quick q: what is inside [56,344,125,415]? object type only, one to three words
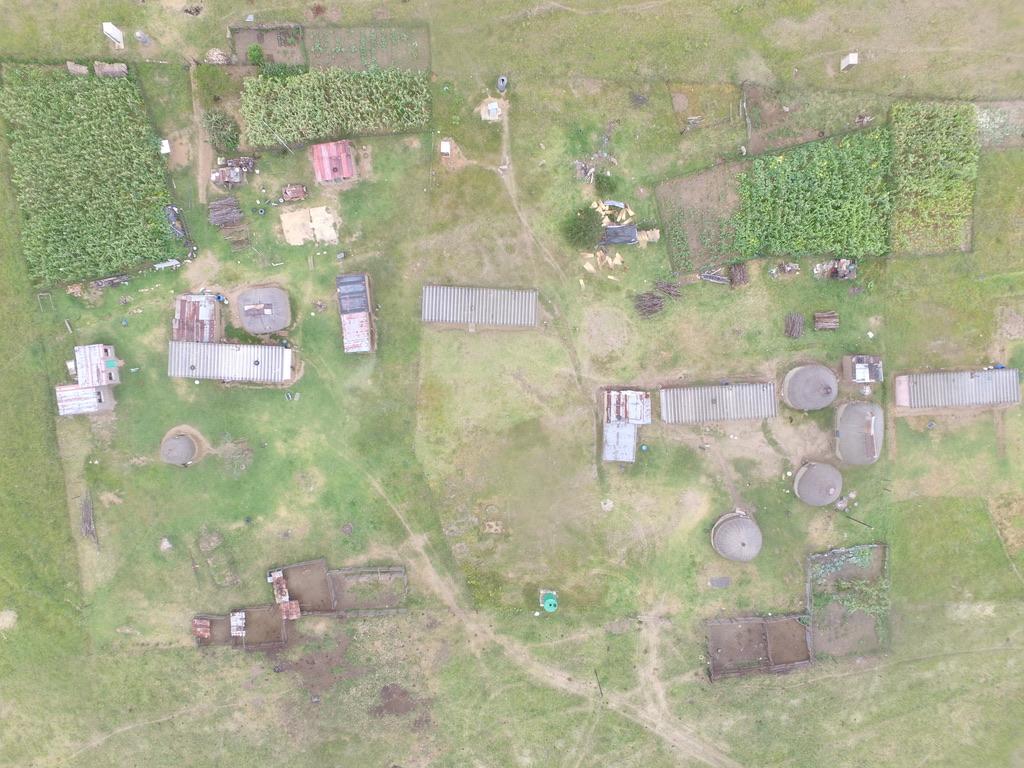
house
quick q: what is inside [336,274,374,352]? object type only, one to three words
shed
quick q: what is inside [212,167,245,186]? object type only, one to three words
shed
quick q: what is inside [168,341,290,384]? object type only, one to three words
house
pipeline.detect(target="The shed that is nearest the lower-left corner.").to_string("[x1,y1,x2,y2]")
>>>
[192,618,216,638]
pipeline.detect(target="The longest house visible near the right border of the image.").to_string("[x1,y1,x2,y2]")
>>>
[894,369,1020,408]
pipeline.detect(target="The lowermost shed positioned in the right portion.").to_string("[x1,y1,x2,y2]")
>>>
[709,509,762,563]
